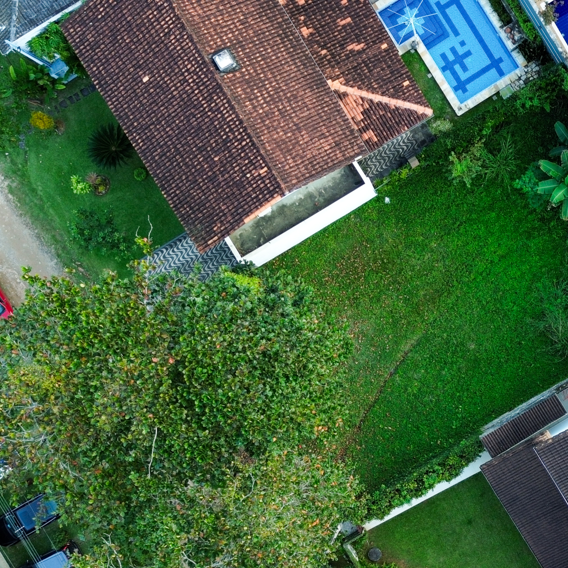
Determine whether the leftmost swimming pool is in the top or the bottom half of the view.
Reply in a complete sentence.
It is in the top half that the leftmost swimming pool appears.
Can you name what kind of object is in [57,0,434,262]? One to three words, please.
house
